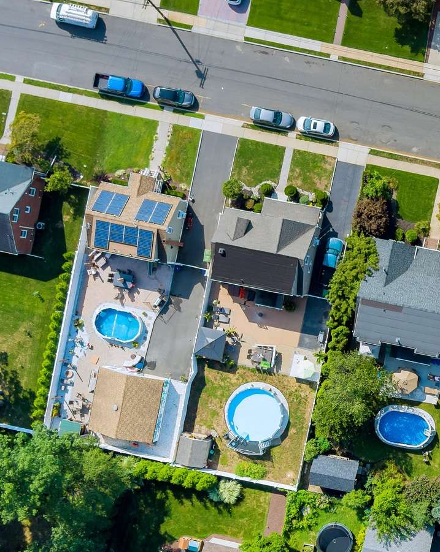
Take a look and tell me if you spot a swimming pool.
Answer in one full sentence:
Yes, a swimming pool is visible in the scene.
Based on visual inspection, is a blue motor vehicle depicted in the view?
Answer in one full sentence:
Yes, this view includes a blue motor vehicle.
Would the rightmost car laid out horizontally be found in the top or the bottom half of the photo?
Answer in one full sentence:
Seen from above, the rightmost car laid out horizontally lies in the top half of the view.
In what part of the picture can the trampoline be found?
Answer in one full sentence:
The trampoline is in the bottom right part of the image.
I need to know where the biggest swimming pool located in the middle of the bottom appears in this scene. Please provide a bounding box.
[225,381,288,451]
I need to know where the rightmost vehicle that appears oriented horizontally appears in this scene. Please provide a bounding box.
[296,116,337,138]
